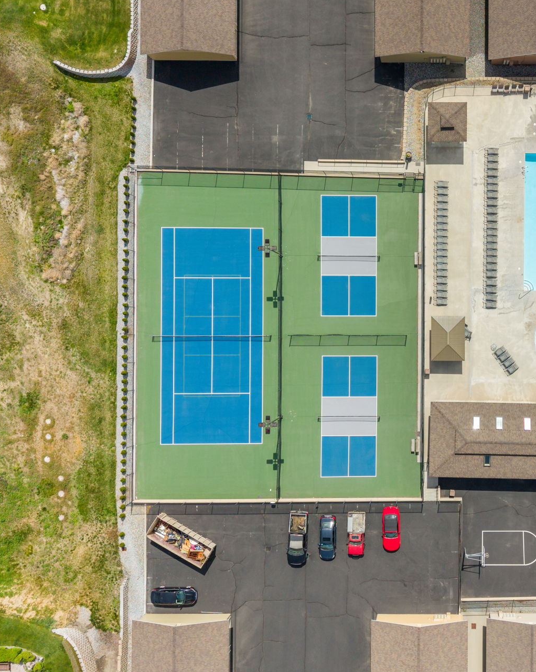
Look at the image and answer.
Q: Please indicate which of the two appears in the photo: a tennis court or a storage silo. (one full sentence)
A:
The one in the frame is a tennis court.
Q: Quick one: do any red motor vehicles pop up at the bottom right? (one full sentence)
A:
Yes, a red motor vehicle is visible at the bottom right.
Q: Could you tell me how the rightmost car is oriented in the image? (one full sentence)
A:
The rightmost car has been laid out from top to bottom relative to the frame.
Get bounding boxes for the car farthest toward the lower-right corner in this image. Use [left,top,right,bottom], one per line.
[382,505,402,550]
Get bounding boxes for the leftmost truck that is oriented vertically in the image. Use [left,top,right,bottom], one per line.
[286,507,309,565]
